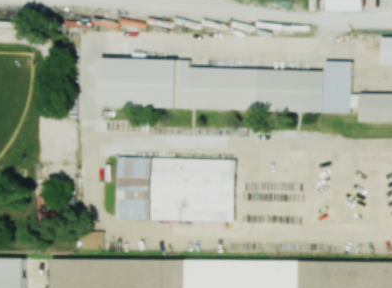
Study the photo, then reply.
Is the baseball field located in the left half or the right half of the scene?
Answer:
left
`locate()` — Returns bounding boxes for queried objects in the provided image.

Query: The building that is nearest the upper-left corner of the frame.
[96,58,176,108]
